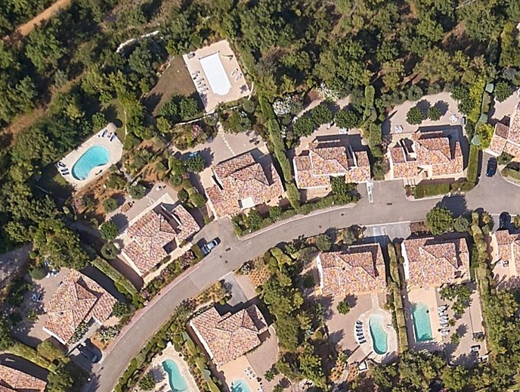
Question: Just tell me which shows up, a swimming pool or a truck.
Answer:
swimming pool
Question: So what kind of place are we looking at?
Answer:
residential area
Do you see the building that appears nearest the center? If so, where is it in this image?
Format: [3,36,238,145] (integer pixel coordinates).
[209,158,285,217]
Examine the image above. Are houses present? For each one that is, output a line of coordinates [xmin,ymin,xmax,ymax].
[190,307,268,367]
[209,158,285,217]
[402,238,470,285]
[494,233,520,289]
[291,139,370,189]
[391,134,464,180]
[318,245,386,294]
[43,270,117,334]
[487,104,520,163]
[118,207,203,270]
